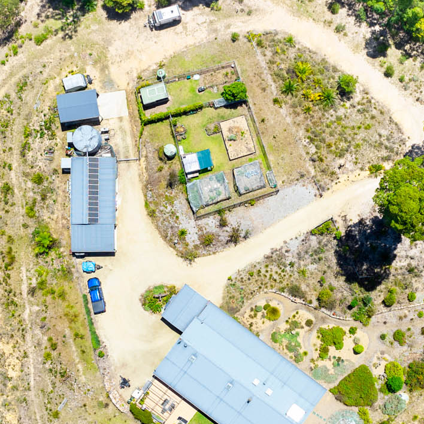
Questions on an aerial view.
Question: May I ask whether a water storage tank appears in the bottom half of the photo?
No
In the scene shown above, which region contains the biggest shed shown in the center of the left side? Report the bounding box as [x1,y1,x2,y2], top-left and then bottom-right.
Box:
[71,157,120,253]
